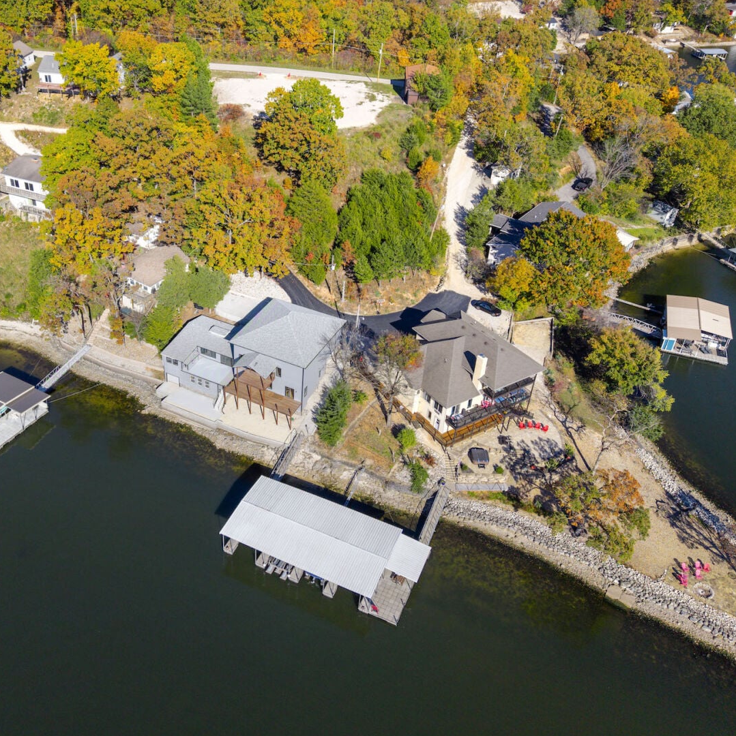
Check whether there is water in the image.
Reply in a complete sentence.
Yes, some water is visible.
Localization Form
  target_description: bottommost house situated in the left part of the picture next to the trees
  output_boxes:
[159,300,346,431]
